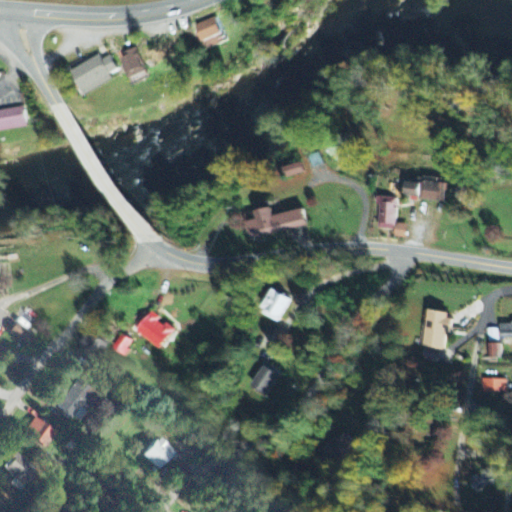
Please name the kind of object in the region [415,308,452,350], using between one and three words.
house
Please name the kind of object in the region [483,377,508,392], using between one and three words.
house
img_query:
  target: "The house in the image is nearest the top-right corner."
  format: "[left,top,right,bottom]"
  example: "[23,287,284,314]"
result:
[402,180,446,202]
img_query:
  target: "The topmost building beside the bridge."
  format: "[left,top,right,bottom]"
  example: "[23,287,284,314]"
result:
[70,48,122,96]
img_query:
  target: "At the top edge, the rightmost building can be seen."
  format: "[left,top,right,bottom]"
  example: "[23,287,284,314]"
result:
[196,16,228,47]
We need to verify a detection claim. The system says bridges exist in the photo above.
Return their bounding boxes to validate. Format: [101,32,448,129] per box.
[52,100,156,248]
